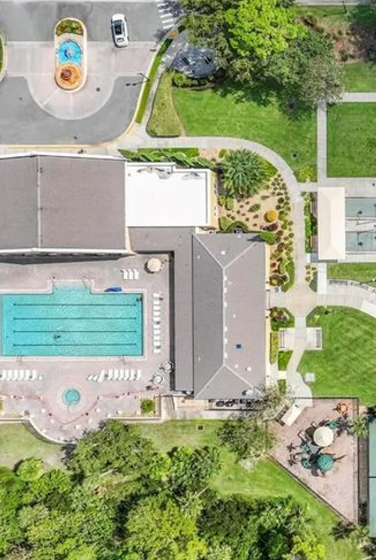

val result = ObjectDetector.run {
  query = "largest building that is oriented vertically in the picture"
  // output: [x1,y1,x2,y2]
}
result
[319,188,347,260]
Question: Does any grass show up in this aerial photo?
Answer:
Yes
